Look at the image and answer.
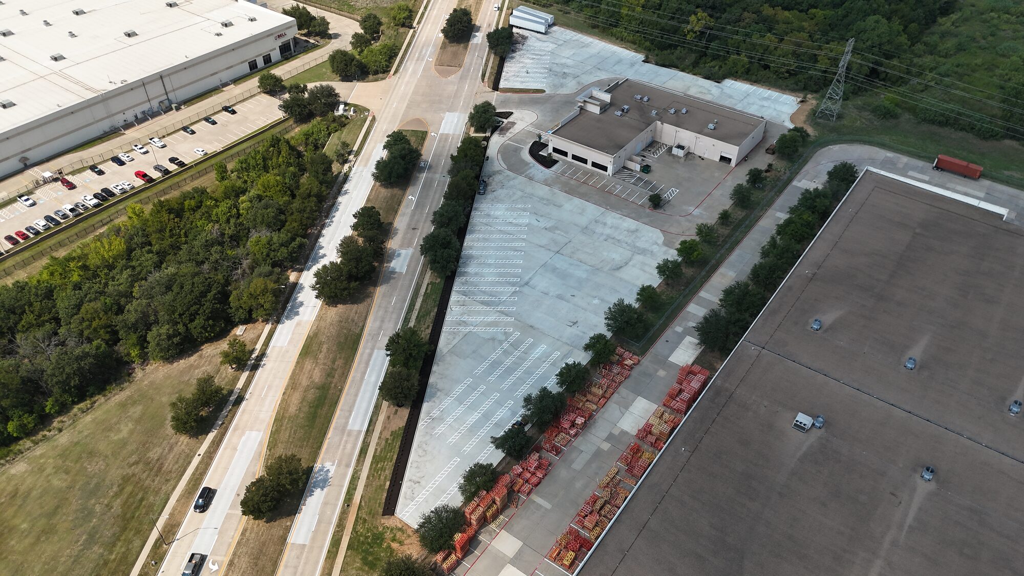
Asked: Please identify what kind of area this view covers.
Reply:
industrial area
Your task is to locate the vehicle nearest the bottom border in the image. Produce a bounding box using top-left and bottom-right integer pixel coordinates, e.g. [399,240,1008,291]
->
[186,553,208,576]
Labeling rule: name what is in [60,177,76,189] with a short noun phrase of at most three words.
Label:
vehicle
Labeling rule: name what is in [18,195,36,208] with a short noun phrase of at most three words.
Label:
vehicle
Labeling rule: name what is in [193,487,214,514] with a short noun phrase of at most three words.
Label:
car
